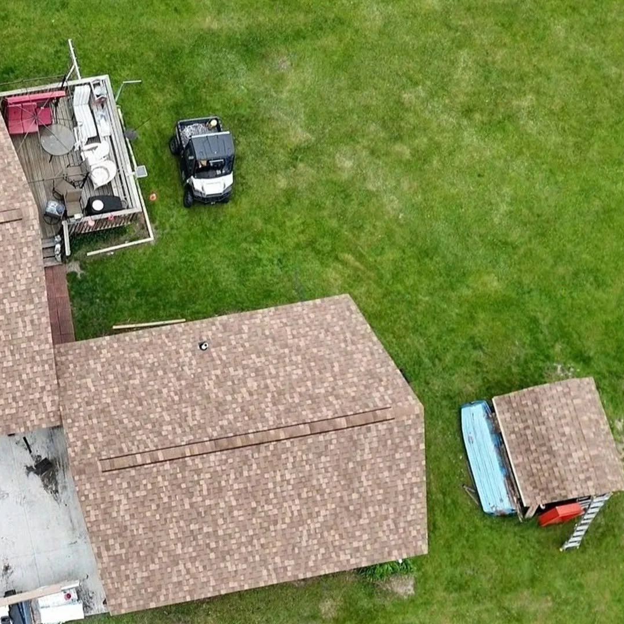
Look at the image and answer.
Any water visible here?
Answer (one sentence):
No, no water is visible.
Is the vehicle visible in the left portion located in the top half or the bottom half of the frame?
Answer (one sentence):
The top half of the photo is where the vehicle visible in the left portion is.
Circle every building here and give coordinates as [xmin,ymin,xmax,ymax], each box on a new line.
[54,293,428,616]
[481,377,624,522]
